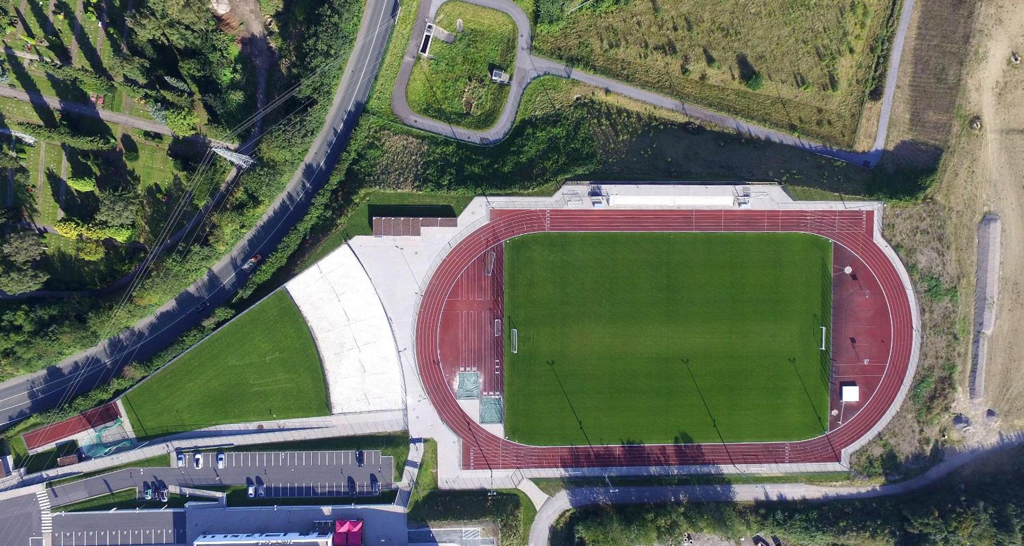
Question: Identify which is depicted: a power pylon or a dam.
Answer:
power pylon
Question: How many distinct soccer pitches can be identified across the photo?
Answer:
1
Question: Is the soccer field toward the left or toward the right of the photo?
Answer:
right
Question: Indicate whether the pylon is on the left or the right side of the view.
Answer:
left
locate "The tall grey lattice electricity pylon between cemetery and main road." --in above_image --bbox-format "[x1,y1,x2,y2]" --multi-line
[208,145,253,169]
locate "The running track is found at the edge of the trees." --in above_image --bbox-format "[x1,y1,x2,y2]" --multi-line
[415,209,916,471]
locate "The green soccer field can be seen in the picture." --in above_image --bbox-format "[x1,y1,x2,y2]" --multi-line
[504,232,834,446]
